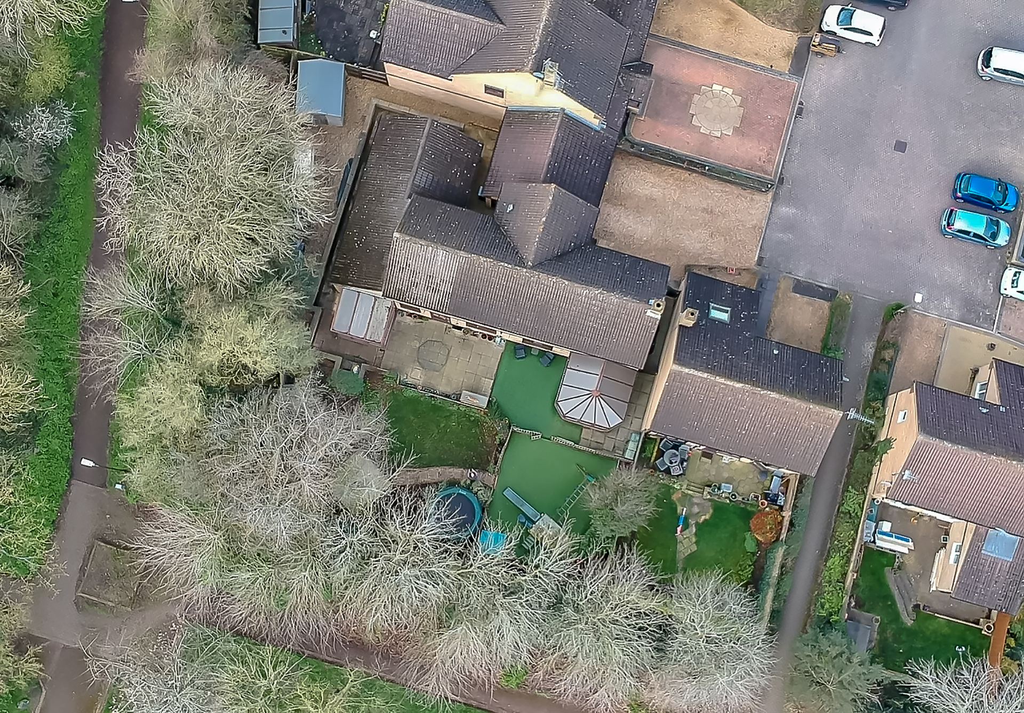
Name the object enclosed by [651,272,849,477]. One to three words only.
house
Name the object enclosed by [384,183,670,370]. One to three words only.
house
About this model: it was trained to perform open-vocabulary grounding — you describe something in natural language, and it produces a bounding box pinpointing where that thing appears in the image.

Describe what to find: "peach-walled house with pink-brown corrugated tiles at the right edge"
[872,355,1024,611]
